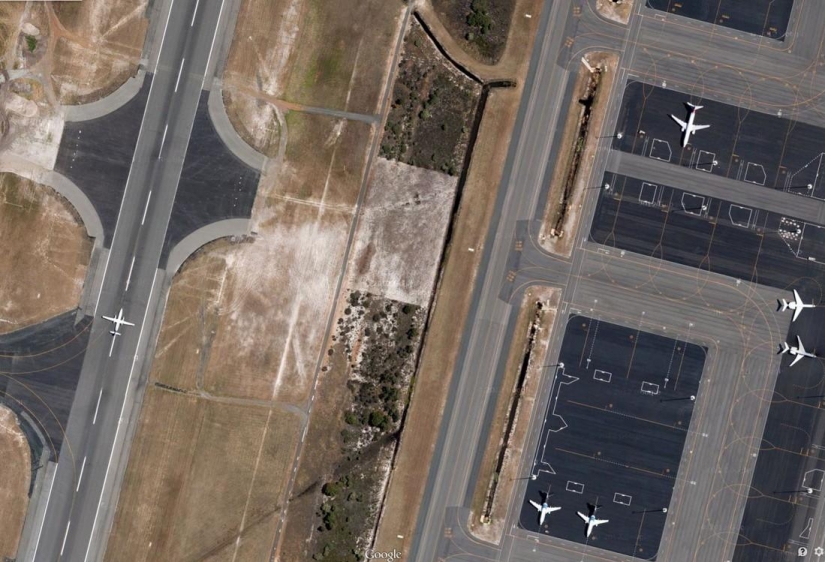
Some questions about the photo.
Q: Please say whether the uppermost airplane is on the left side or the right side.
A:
right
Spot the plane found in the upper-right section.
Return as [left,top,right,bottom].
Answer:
[672,102,711,147]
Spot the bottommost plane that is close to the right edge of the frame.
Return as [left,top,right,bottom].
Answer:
[783,335,817,366]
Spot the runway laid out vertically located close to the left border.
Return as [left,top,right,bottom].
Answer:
[33,0,225,562]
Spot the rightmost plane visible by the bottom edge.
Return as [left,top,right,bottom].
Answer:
[578,497,609,537]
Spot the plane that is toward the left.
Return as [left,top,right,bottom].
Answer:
[102,308,135,336]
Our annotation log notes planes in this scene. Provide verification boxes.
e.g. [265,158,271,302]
[783,290,816,321]
[783,335,817,366]
[578,497,609,537]
[672,102,711,147]
[102,308,135,336]
[532,485,562,525]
